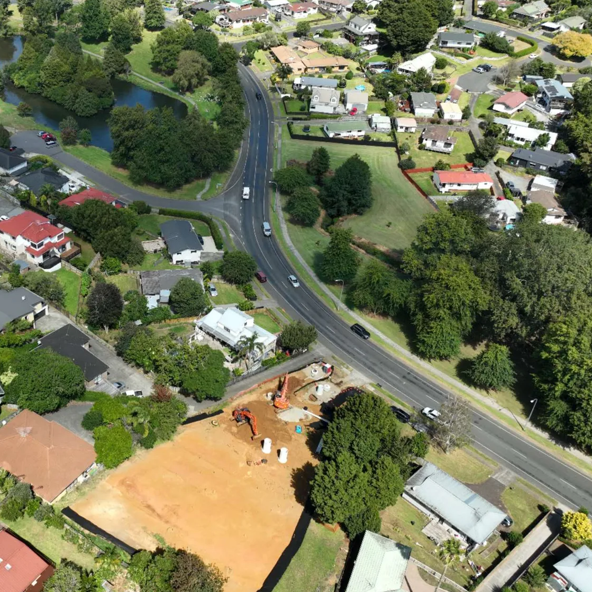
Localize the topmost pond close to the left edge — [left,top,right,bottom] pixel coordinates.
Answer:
[0,34,187,152]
